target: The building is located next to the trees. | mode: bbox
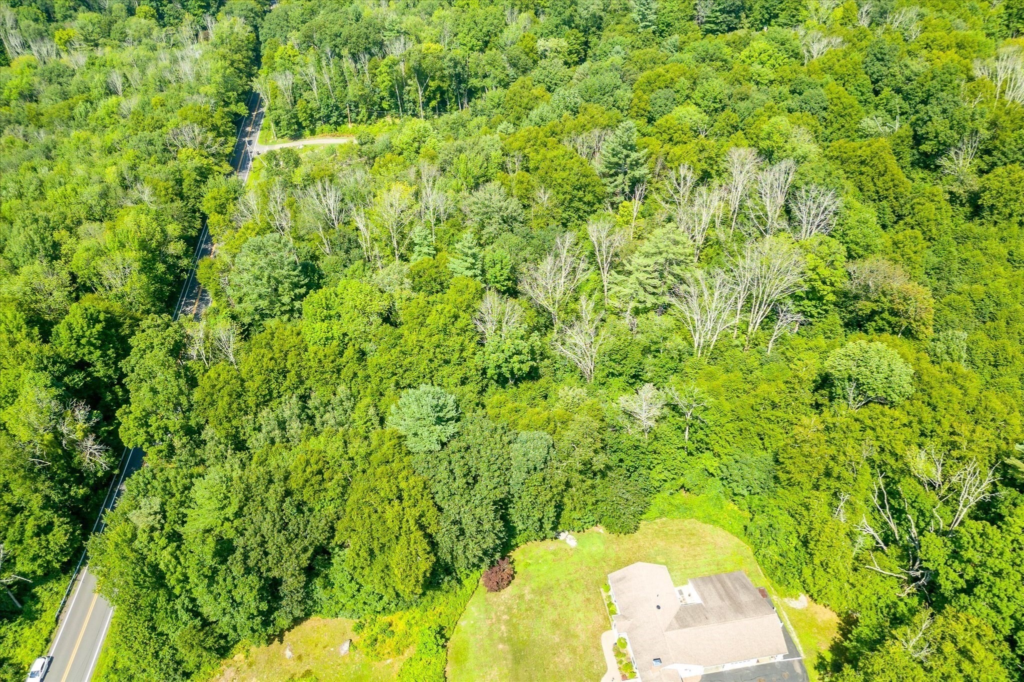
[608,563,787,682]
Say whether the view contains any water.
No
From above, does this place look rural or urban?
rural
